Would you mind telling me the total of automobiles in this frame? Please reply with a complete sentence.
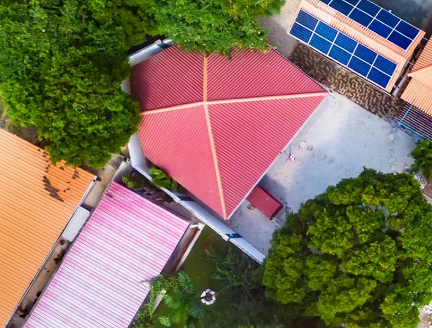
There are no automobiles in this view.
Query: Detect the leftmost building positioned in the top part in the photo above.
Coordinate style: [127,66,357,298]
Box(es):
[133,29,331,221]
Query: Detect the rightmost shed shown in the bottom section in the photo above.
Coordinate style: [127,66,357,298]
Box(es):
[248,186,287,217]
